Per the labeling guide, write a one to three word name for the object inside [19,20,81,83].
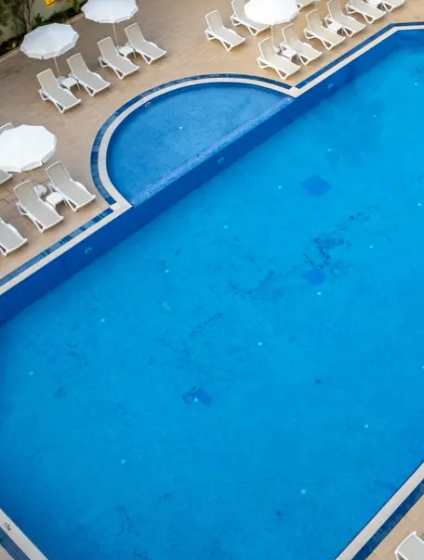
umbrella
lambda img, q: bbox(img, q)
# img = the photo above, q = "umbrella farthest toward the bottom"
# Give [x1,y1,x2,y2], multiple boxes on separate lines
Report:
[0,124,62,195]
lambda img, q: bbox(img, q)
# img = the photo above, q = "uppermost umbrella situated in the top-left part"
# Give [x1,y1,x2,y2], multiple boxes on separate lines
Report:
[77,0,138,51]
